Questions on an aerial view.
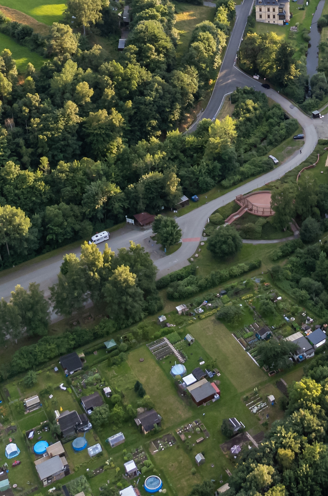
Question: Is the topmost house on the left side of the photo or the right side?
right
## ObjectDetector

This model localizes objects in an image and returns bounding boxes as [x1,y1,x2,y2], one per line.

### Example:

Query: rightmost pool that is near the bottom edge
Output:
[143,473,164,495]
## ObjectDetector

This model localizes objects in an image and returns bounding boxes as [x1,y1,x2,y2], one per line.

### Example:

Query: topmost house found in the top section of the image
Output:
[254,0,289,24]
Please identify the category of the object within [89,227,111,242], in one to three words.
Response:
vehicle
